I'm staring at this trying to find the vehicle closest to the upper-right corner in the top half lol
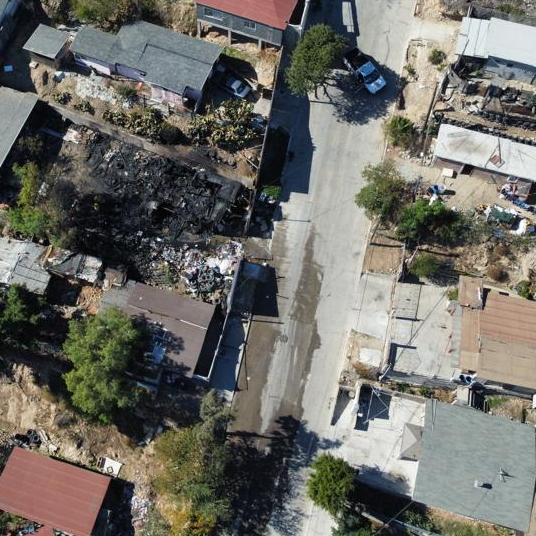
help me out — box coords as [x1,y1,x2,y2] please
[344,47,388,94]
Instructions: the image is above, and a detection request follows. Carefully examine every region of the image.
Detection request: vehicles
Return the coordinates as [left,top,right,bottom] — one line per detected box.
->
[212,60,258,103]
[344,47,388,94]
